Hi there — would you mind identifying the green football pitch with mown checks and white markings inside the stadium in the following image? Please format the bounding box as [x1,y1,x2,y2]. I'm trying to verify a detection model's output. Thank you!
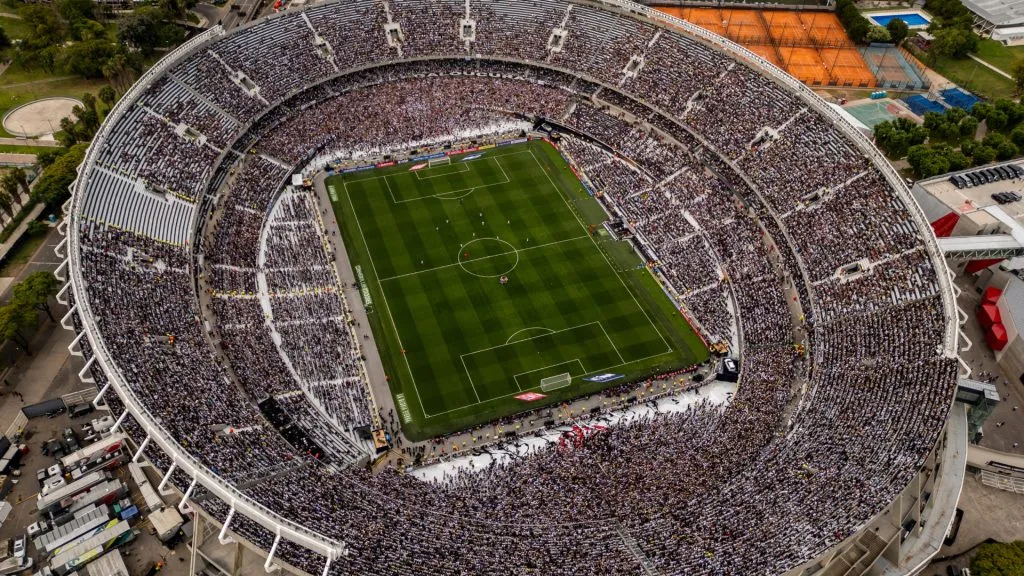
[321,137,714,441]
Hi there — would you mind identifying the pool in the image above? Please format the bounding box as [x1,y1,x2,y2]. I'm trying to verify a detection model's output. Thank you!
[859,9,935,30]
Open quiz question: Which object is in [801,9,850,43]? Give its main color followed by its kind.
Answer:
orange tennis court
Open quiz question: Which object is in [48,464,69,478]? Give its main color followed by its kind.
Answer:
white vehicle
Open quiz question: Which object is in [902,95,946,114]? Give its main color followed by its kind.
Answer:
blue sports court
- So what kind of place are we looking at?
sports ground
